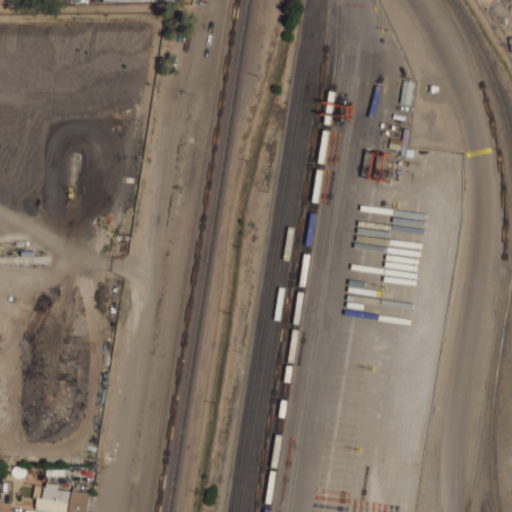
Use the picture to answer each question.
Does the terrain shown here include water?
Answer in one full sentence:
No, no water is visible.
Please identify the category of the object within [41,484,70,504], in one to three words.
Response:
house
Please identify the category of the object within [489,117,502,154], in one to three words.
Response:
rail car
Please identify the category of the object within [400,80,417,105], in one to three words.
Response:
building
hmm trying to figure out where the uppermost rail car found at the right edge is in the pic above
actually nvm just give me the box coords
[480,83,494,118]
